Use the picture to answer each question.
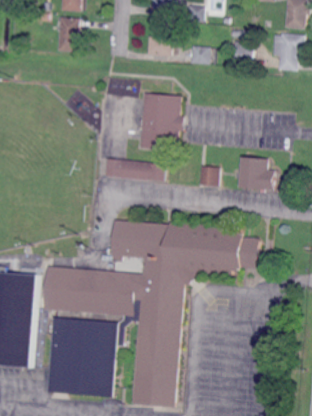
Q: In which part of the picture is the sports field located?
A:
left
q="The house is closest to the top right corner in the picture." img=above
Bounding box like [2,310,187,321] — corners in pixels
[286,0,312,30]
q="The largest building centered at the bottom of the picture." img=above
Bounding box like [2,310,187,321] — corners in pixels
[46,220,262,408]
